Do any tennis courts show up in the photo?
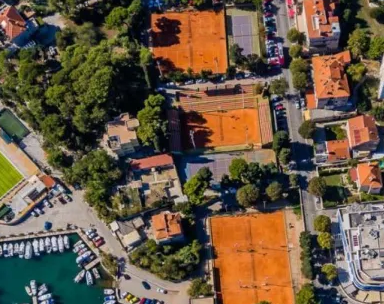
Yes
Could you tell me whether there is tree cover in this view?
Yes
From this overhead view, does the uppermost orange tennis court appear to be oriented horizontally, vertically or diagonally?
horizontally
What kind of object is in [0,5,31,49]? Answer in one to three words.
house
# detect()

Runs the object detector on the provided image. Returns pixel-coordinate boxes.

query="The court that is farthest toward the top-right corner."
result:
[226,7,265,68]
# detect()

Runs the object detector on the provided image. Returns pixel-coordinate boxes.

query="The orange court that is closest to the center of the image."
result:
[181,109,261,151]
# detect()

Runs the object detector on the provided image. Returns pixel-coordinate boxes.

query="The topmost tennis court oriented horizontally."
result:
[151,10,225,44]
